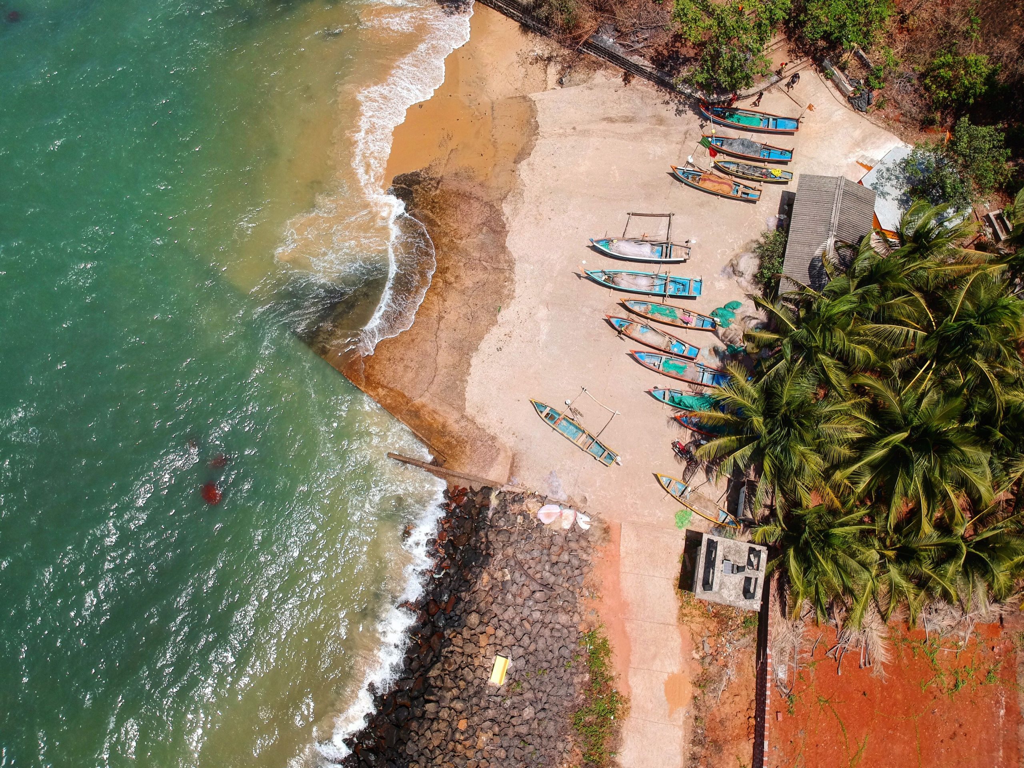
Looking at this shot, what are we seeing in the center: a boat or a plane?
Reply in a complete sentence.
The feature located in the center is a boat.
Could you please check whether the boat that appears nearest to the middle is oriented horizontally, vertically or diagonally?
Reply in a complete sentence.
I'd say the boat that appears nearest to the middle is aligned diagonally in the picture.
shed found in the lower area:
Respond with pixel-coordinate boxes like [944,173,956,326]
[684,524,767,611]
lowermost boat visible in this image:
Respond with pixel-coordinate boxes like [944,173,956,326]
[657,462,742,529]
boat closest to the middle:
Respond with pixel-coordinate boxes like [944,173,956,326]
[530,387,621,466]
